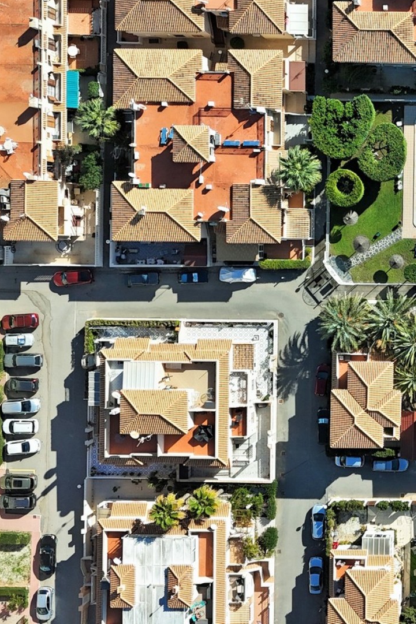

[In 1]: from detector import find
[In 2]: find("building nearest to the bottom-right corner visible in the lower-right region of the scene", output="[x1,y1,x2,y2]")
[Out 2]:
[324,519,403,624]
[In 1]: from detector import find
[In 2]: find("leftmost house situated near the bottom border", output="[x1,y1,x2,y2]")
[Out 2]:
[96,501,269,624]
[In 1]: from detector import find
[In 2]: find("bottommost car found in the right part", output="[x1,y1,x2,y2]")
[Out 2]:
[307,555,324,593]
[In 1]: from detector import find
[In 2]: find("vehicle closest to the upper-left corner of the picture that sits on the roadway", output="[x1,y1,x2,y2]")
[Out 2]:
[55,268,95,287]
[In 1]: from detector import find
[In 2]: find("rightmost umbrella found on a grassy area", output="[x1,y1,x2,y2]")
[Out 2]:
[389,254,404,269]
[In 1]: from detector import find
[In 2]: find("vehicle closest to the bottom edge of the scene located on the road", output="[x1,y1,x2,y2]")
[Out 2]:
[36,585,58,620]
